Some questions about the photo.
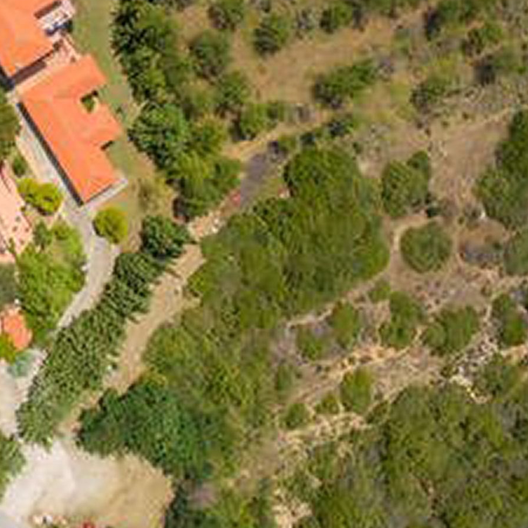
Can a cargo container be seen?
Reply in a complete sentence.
No, there appears to be no cargo container in this shot.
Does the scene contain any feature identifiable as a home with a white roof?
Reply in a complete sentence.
No, I find no home with a white roof anywhere in the image.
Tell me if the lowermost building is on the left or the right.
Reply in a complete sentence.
It is on the left.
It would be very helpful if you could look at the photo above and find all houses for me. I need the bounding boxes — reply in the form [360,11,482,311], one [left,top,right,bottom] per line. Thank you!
[0,0,53,76]
[19,54,123,203]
